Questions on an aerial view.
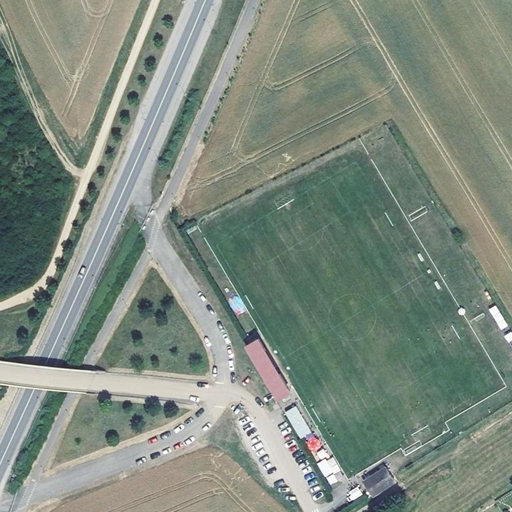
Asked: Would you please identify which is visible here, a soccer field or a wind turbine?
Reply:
soccer field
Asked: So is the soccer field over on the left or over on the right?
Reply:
right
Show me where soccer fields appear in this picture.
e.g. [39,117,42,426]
[212,154,502,474]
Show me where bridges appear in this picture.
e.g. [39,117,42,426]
[0,360,116,394]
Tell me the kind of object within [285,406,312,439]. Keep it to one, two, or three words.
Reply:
shed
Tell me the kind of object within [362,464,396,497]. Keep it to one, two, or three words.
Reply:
building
